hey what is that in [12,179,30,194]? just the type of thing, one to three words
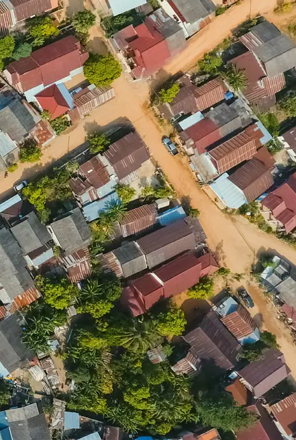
car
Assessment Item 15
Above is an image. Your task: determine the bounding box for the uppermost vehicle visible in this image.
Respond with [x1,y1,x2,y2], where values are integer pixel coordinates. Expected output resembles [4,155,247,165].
[163,133,179,154]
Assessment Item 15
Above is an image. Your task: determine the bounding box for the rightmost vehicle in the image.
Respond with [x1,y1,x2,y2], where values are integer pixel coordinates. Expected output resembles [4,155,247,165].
[239,287,255,309]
